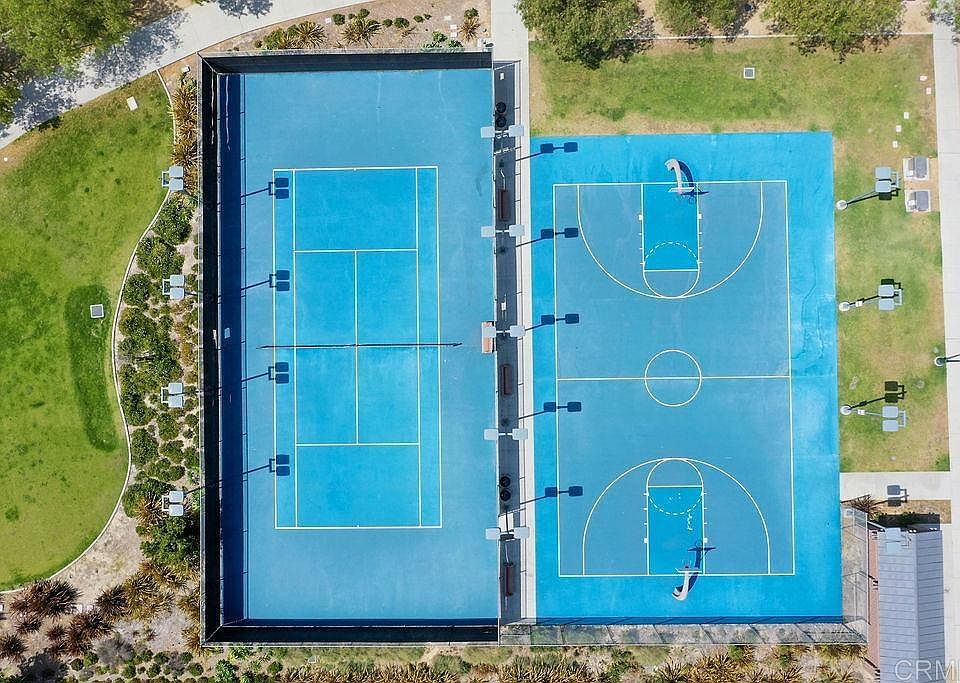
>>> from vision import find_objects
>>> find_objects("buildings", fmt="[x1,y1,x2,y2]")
[866,521,947,683]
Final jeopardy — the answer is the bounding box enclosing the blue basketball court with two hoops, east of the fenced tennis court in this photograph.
[530,132,843,625]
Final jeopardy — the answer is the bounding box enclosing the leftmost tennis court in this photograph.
[222,67,501,627]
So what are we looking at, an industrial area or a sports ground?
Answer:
sports ground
